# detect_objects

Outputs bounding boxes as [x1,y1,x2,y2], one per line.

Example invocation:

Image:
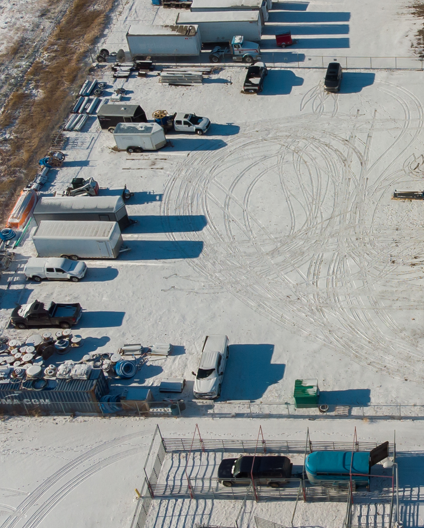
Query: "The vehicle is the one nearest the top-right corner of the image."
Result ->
[322,60,344,89]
